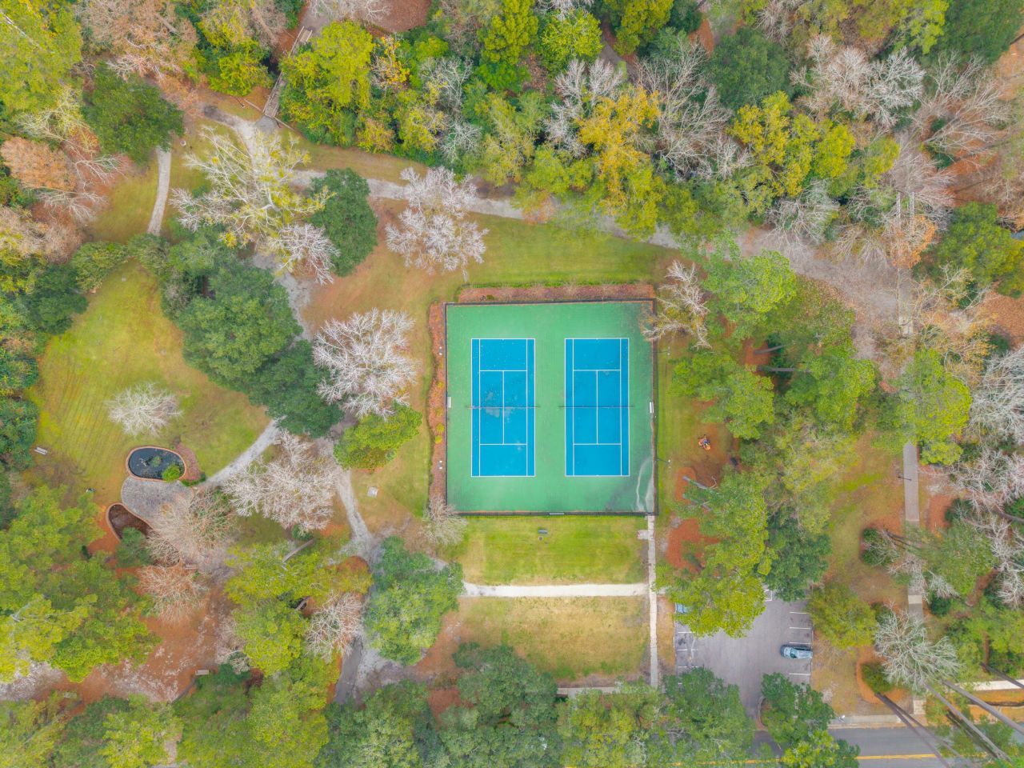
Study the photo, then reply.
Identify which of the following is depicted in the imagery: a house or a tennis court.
tennis court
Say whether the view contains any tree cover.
Yes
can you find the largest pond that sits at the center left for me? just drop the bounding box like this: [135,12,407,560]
[125,446,186,482]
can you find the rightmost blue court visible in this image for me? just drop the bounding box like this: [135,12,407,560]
[560,338,636,476]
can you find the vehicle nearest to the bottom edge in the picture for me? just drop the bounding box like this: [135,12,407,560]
[781,645,812,661]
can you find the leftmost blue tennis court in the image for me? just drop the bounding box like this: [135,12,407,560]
[465,338,541,476]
